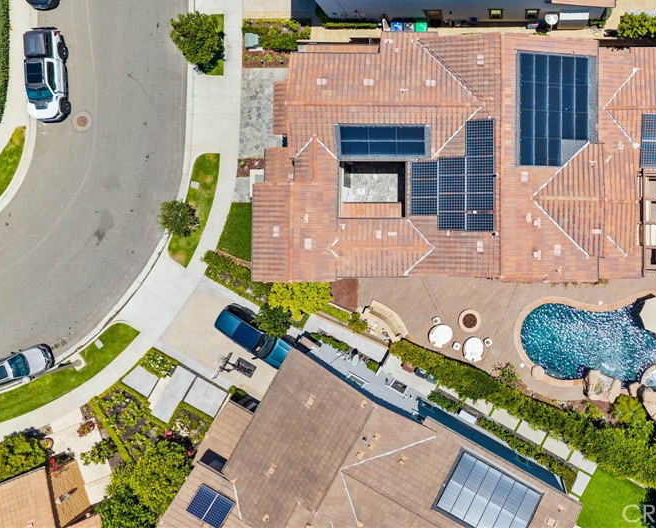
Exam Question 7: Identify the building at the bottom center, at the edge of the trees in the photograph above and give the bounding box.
[160,342,581,528]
